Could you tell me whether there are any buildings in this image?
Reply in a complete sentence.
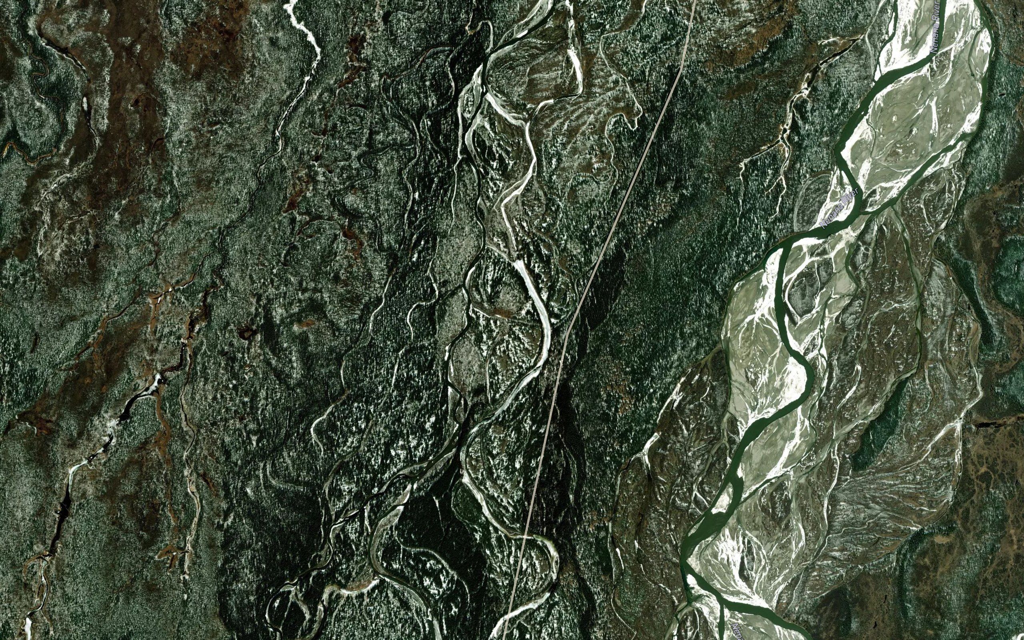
Yes, there's a building down there.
